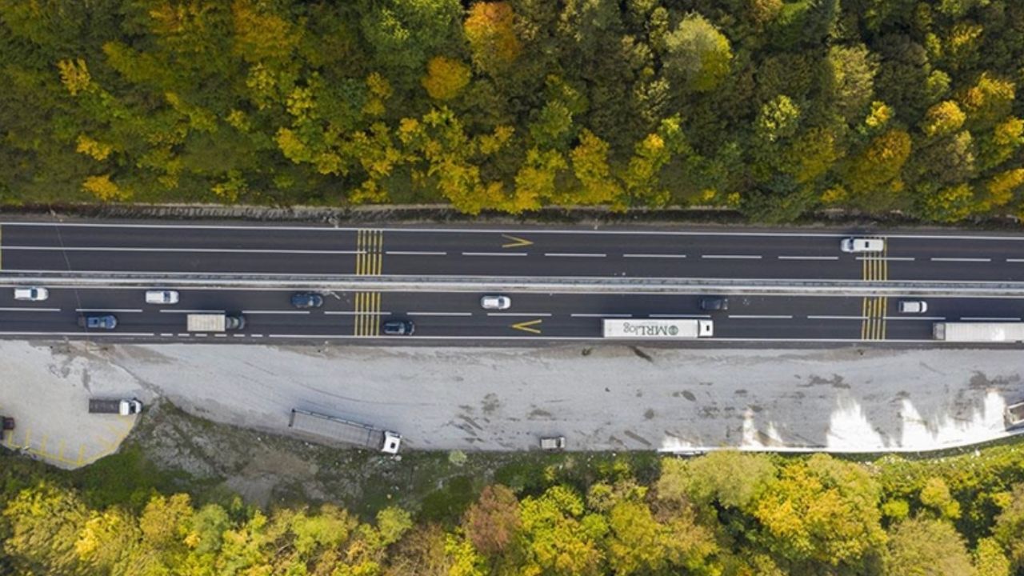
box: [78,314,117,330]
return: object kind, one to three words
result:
vehicle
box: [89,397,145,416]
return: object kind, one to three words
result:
vehicle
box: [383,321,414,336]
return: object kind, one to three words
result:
car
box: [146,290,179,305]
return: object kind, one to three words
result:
car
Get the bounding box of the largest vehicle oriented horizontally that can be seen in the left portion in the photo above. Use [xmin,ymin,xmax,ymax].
[289,409,402,456]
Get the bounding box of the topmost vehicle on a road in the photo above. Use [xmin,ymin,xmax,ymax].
[839,238,883,254]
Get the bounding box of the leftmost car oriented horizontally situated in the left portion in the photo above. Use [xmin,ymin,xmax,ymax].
[17,287,49,302]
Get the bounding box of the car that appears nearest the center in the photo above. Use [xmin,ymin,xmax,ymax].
[481,295,511,310]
